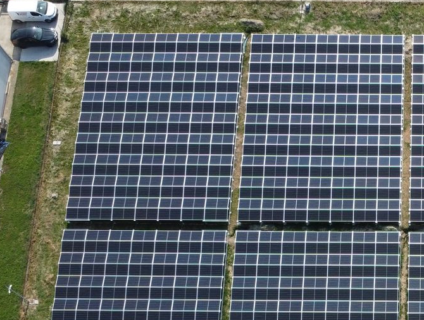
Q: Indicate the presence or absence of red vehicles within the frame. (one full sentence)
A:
No, there appears to be no red vehicle in this shot.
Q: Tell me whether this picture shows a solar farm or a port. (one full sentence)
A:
This image shows a solar farm.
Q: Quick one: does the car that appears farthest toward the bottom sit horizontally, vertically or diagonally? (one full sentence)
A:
From this overhead view, the car that appears farthest toward the bottom appears to run horizontally.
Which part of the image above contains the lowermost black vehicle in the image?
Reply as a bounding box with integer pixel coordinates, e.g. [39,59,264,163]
[10,23,58,47]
